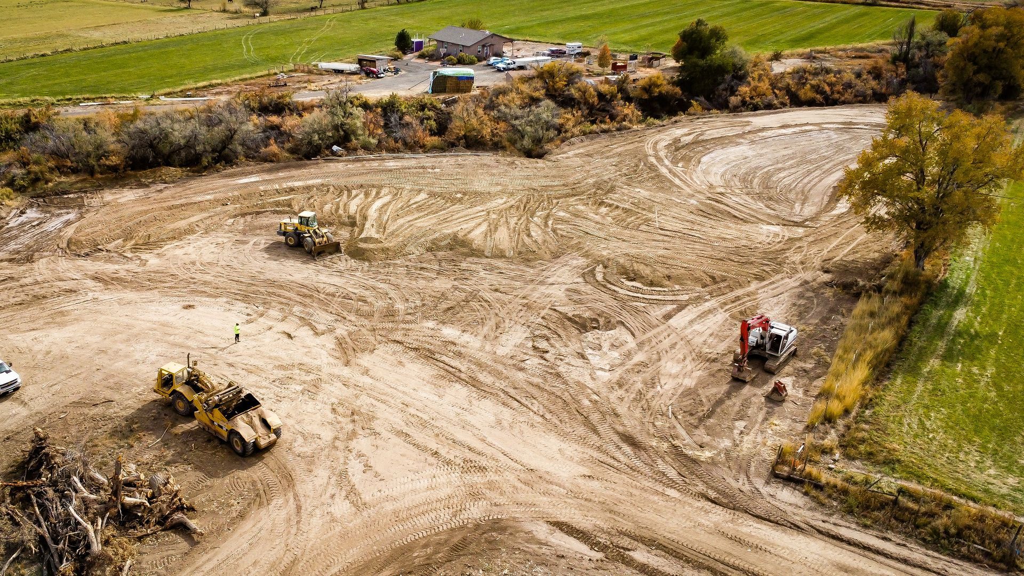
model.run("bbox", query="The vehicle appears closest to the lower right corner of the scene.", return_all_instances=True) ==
[731,315,807,379]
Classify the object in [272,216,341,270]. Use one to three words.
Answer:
work vehicle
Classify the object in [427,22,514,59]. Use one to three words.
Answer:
house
